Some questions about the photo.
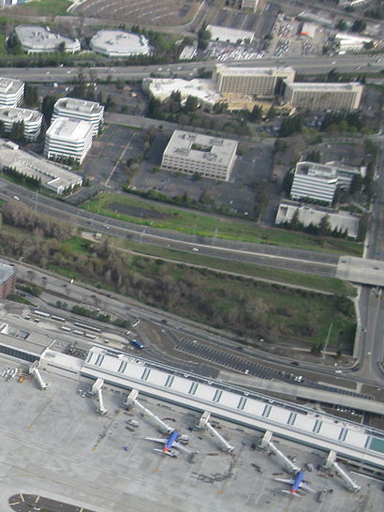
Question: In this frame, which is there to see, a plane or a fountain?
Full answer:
The one in the frame is a plane.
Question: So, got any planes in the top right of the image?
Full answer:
No, I see no plane in the top right of the image.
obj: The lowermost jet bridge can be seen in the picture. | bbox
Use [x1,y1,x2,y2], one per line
[335,459,361,493]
